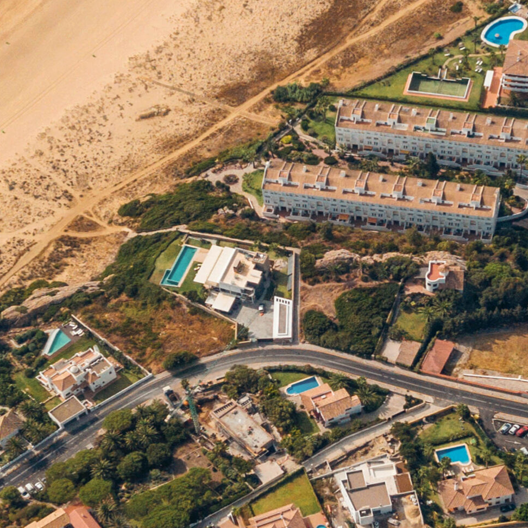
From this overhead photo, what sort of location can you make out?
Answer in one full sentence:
It's a residential area.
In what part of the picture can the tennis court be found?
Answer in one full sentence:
The tennis court is in the top right part of the image.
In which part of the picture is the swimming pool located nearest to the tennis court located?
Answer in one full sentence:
You can find the swimming pool located nearest to the tennis court in the top right area of the picture.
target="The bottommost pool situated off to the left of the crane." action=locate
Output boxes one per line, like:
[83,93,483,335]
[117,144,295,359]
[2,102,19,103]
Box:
[46,326,73,357]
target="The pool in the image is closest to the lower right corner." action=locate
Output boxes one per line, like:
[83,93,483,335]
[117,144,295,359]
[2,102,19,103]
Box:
[433,443,473,467]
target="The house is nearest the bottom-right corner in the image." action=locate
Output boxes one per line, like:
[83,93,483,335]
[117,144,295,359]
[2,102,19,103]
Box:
[437,465,516,517]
